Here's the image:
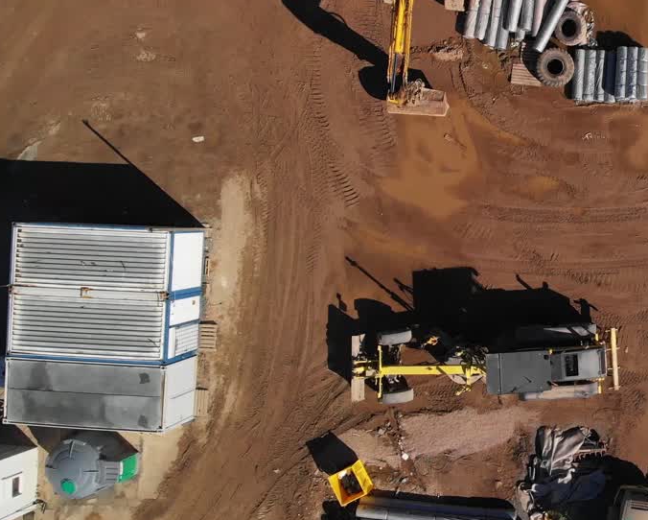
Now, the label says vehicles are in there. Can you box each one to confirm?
[381,0,468,114]
[350,325,620,406]
[610,480,648,520]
